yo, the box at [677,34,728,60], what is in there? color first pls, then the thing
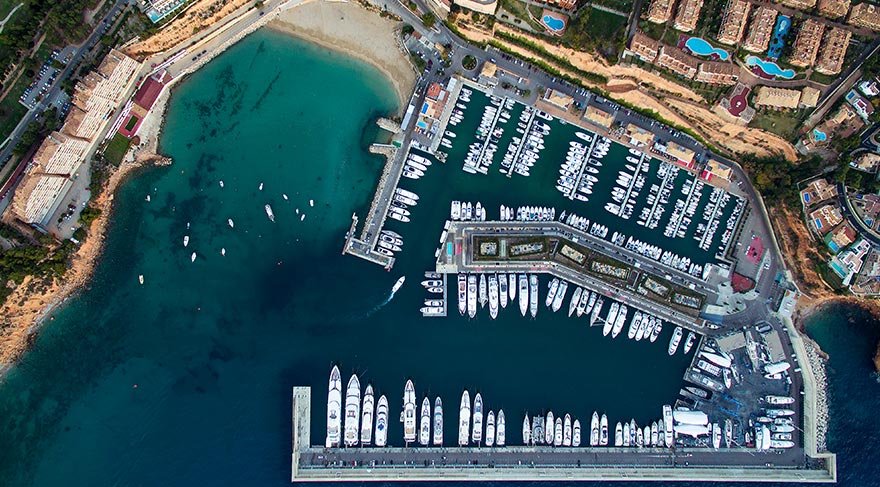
blue swimming pool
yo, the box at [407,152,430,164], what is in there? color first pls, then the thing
white boat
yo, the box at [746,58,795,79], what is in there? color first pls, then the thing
blue swimming pool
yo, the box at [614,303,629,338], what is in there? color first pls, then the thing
white boat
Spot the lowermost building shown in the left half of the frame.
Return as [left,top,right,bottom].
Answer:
[5,161,68,224]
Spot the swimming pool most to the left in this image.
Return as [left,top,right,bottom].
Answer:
[146,0,194,22]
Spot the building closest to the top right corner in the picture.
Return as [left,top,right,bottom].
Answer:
[846,1,880,34]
